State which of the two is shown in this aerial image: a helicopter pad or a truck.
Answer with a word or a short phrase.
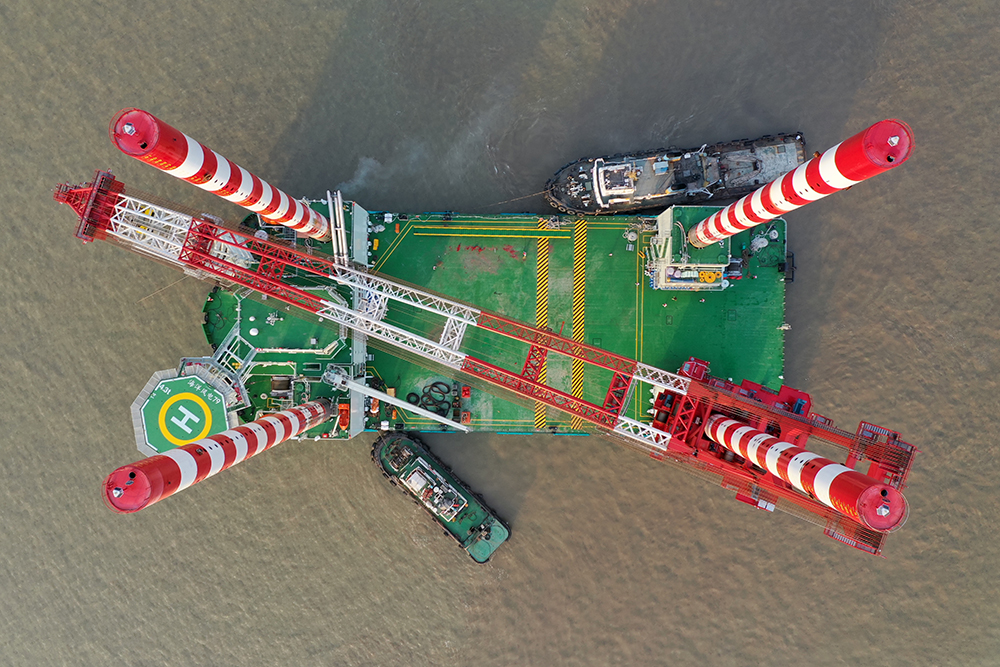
helicopter pad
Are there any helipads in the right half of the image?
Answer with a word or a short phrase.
No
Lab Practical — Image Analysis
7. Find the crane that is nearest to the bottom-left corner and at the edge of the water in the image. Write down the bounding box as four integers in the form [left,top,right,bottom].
[323,365,472,435]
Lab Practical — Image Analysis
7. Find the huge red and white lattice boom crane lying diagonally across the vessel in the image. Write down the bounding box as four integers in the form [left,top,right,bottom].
[49,167,926,559]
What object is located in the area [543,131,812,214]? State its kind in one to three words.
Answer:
boat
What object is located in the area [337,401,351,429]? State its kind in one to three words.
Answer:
boat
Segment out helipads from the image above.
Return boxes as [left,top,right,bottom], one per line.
[131,323,260,456]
